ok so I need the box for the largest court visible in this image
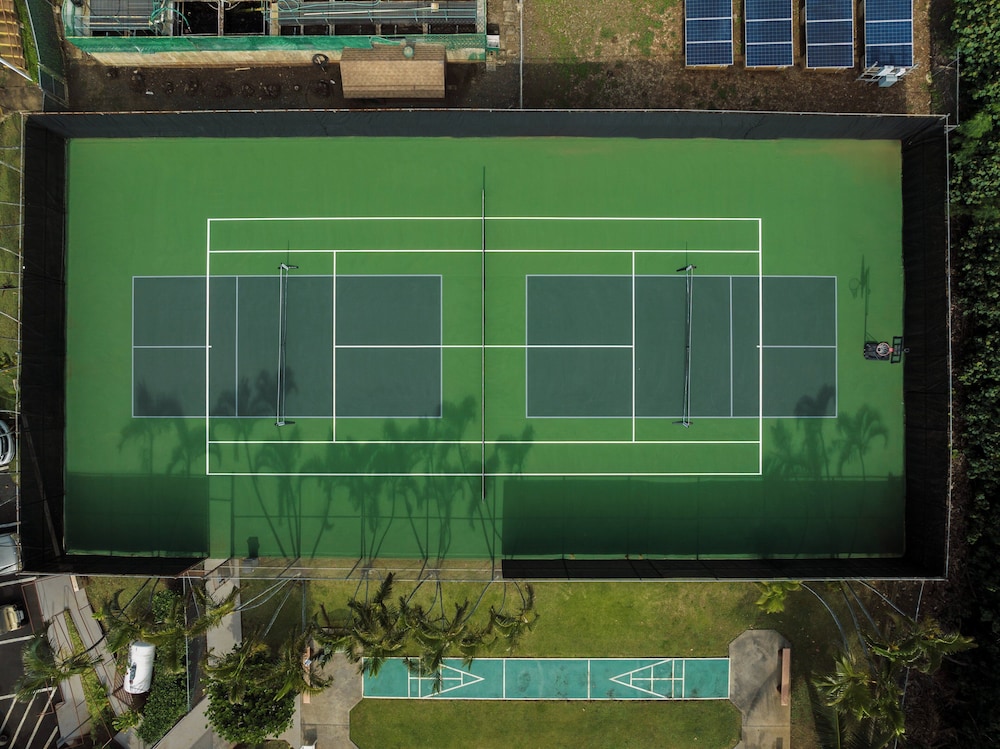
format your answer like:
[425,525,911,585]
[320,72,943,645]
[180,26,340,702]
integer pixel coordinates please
[65,139,904,558]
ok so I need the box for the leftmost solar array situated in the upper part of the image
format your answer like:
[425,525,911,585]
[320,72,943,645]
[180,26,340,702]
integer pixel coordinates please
[683,0,734,72]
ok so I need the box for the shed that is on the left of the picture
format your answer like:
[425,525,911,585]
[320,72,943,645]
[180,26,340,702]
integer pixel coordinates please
[343,46,443,110]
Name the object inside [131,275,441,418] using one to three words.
sports court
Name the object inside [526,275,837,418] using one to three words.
sports court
